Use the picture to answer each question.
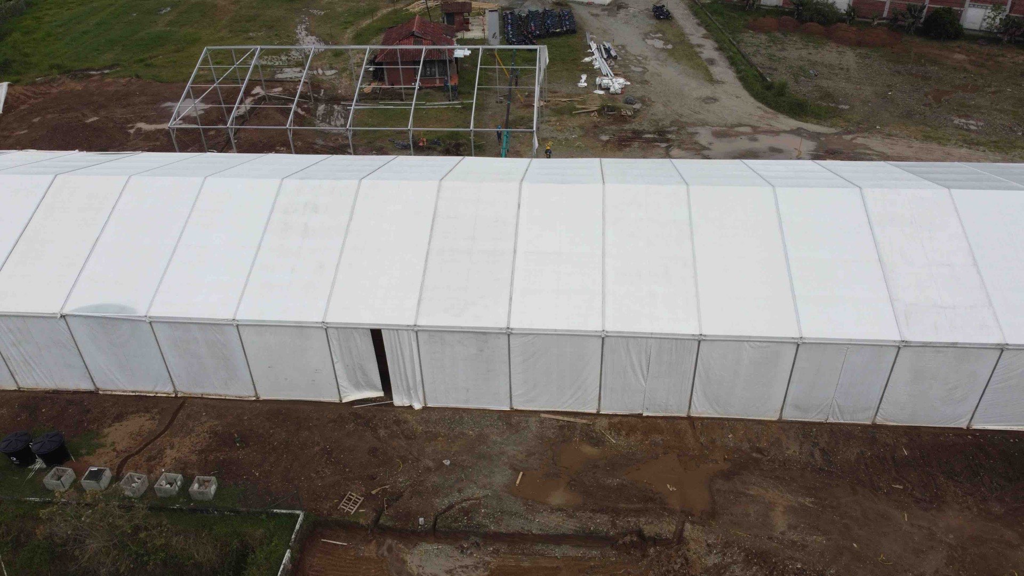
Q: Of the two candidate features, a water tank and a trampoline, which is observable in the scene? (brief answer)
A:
water tank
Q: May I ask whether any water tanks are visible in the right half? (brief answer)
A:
No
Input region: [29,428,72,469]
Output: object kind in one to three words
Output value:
water tank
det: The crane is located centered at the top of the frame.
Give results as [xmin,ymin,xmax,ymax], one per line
[499,49,517,157]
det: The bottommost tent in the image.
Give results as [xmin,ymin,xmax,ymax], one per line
[0,149,1024,432]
